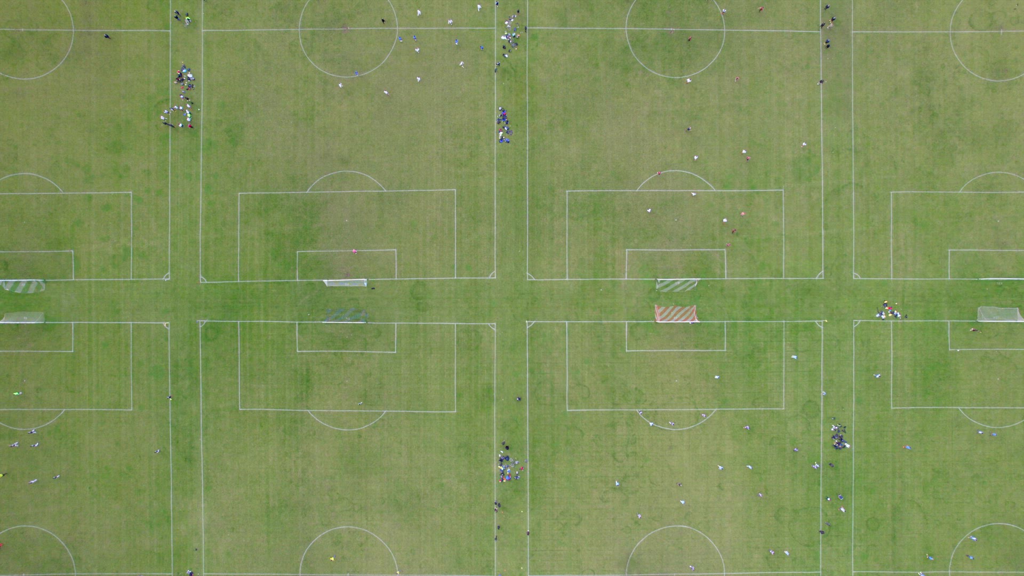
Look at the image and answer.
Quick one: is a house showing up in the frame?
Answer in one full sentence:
No, this view has no house in it.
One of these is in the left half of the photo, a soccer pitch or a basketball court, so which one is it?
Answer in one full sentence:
There is a soccer pitch in the left half of the photo.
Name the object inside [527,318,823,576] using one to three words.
soccer field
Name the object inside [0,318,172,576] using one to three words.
soccer field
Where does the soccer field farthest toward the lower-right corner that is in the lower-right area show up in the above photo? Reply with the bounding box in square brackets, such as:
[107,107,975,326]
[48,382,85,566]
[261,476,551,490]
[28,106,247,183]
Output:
[852,316,1024,576]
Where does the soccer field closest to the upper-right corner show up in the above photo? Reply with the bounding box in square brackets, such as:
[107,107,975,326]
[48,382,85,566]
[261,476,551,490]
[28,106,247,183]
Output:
[852,0,1024,279]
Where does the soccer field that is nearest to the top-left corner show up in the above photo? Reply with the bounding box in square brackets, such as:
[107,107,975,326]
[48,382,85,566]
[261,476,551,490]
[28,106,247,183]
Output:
[0,0,171,281]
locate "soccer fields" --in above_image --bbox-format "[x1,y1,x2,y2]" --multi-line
[527,318,823,576]
[852,316,1024,576]
[0,318,172,576]
[200,0,497,285]
[0,0,171,281]
[526,0,824,284]
[197,317,497,576]
[852,0,1024,279]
